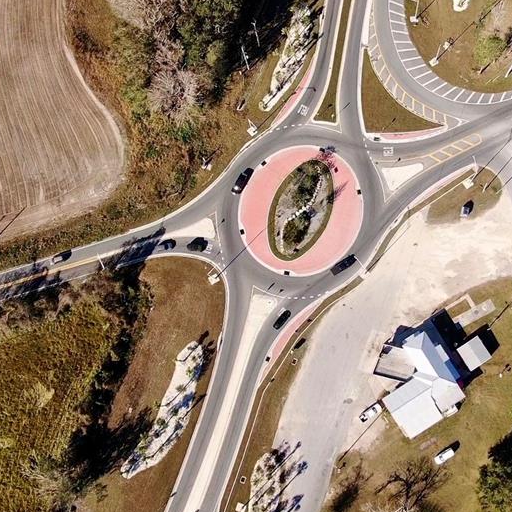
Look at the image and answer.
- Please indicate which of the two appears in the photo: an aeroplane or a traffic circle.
traffic circle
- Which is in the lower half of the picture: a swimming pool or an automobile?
automobile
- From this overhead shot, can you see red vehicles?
No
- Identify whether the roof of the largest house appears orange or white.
white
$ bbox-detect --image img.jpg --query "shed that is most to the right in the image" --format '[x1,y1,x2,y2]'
[456,336,491,370]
